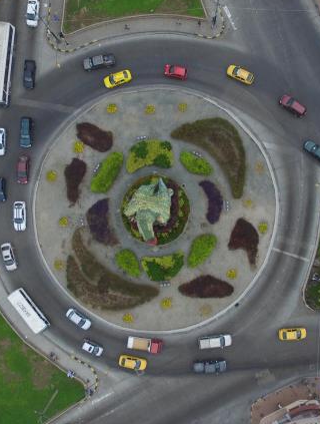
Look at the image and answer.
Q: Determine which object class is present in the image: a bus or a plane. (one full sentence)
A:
I can see a bus in this picture.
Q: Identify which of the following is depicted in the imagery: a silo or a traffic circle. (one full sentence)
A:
This aerial view contains a traffic circle.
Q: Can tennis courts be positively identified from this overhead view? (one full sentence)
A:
No, there is no tennis court in the image.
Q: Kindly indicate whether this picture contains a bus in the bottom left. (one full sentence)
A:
Yes, a bus shows up in the bottom left.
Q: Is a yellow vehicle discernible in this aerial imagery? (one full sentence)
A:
Yes, the photo shows a yellow vehicle.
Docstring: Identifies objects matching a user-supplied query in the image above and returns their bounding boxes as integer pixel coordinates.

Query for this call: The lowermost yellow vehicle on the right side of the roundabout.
[278,327,306,341]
